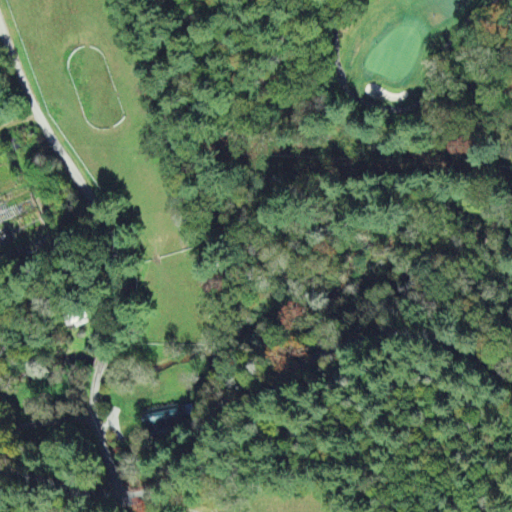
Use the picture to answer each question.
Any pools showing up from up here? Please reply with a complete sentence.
No, there appears to be no pool in this shot.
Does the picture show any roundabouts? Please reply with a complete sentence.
No, there appears to be no roundabout in this shot.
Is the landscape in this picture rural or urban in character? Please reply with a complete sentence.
The land in this view is best described as rural.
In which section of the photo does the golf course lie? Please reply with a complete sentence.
The golf course is located in the top right region of the scene.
